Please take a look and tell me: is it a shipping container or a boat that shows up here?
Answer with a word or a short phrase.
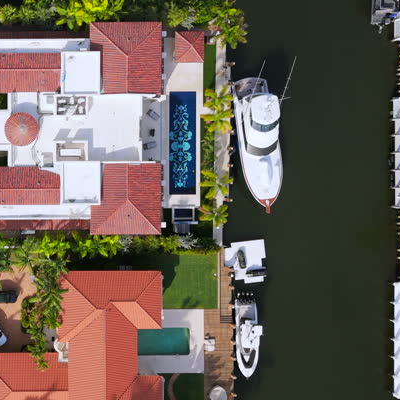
boat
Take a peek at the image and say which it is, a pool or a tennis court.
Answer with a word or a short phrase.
pool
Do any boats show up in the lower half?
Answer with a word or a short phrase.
Yes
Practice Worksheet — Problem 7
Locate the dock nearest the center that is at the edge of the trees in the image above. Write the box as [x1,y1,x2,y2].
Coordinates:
[228,240,265,284]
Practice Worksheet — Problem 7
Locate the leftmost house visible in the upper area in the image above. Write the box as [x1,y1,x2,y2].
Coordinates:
[0,22,167,235]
